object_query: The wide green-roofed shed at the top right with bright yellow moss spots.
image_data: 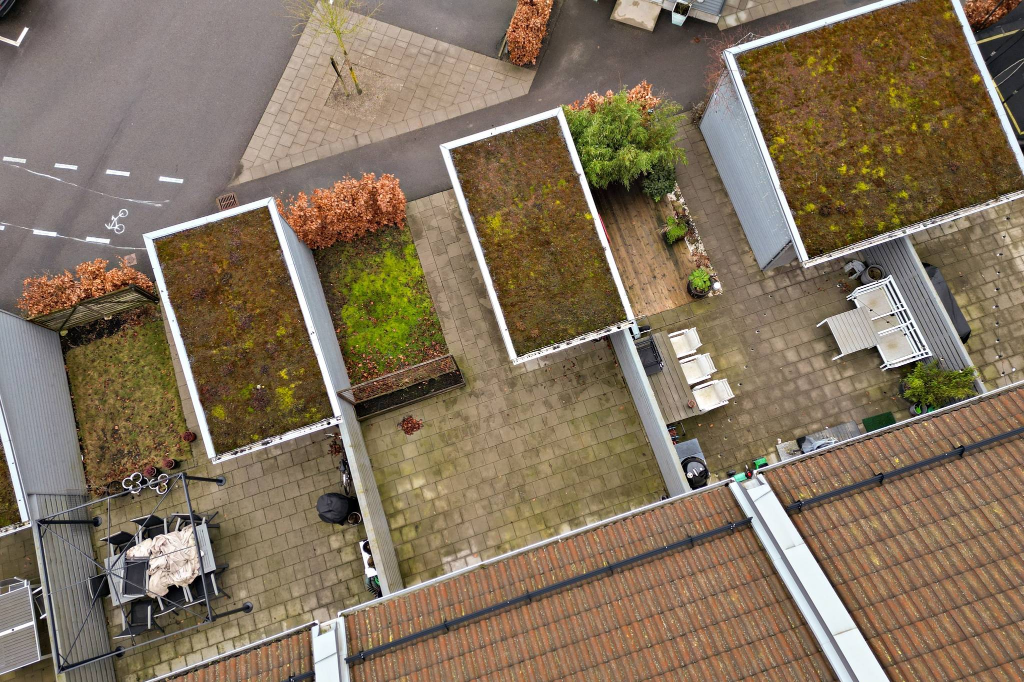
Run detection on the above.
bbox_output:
[698,0,1024,275]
